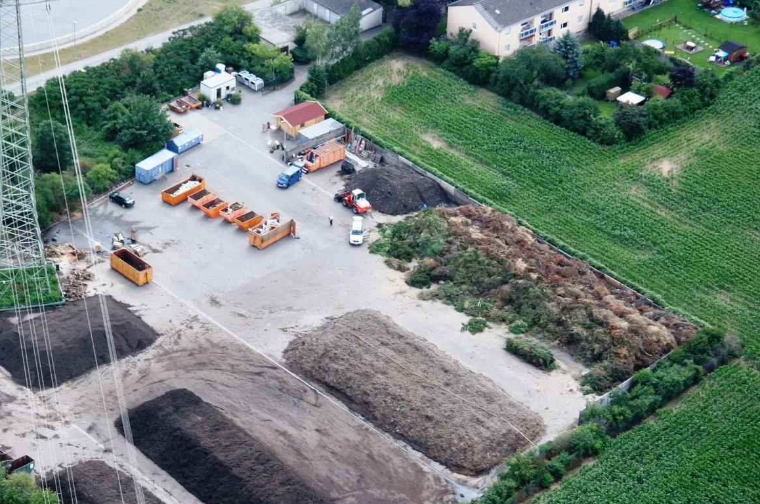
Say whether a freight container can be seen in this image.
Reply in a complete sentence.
Yes, this view includes a freight container.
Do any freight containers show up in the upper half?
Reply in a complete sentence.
Yes, in the upper half there is a freight container.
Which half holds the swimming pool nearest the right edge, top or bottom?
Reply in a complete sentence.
The swimming pool nearest the right edge sits in the top half of the picture.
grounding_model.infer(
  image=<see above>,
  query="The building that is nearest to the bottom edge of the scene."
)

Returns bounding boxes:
[271,102,327,139]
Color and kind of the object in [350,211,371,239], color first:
white car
